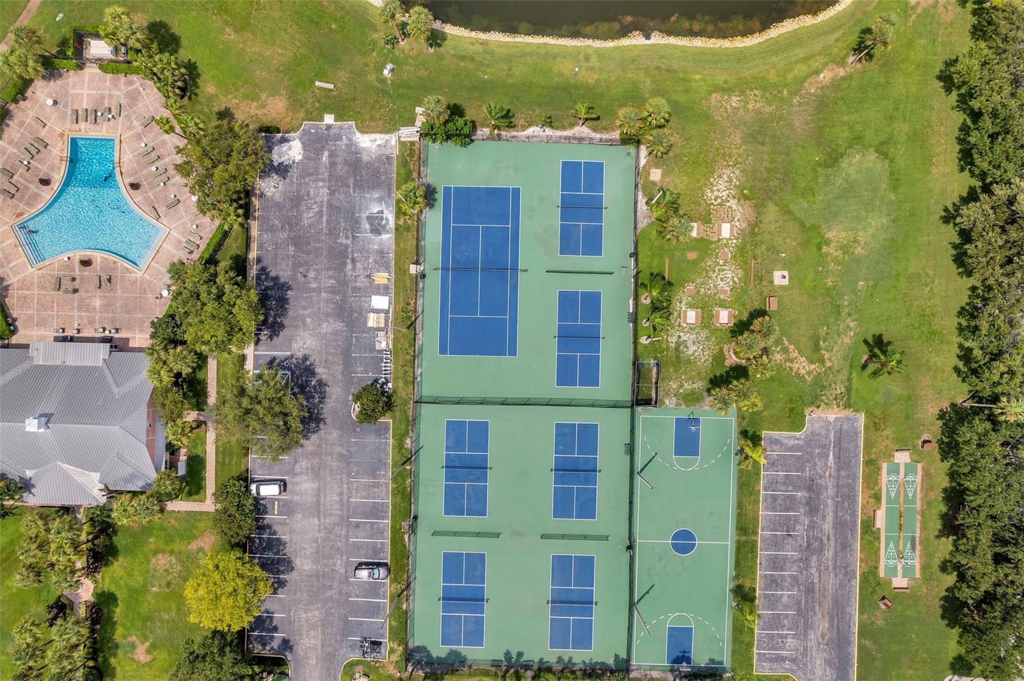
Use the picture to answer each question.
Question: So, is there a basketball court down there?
Yes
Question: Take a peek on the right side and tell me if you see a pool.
No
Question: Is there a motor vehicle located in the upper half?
No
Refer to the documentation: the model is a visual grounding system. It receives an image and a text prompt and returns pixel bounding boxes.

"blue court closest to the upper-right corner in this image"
[559,160,605,257]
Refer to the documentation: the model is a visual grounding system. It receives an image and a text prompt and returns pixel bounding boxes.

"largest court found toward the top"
[439,186,521,357]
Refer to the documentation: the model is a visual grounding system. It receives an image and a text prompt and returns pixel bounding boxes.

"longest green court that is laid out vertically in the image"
[632,408,736,673]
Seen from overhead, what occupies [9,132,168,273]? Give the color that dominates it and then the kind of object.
blue swimming pool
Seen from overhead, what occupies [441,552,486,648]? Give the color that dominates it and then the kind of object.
blue sports court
